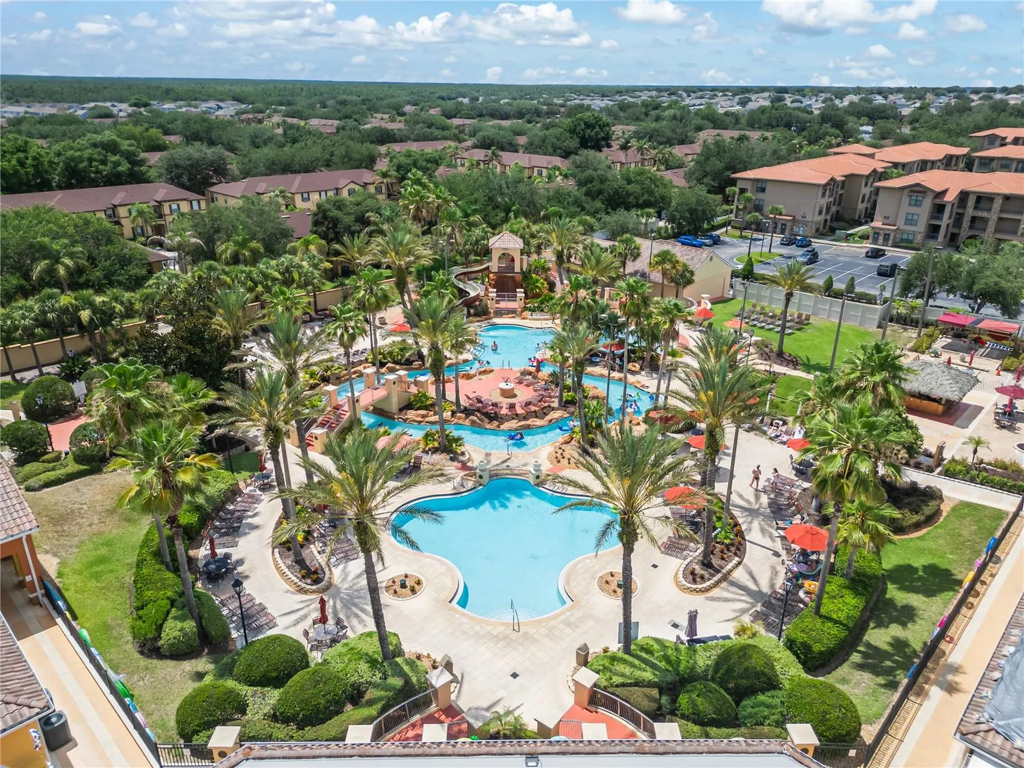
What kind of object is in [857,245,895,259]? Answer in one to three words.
car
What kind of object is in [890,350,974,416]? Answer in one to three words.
shed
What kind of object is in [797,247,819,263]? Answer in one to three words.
car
